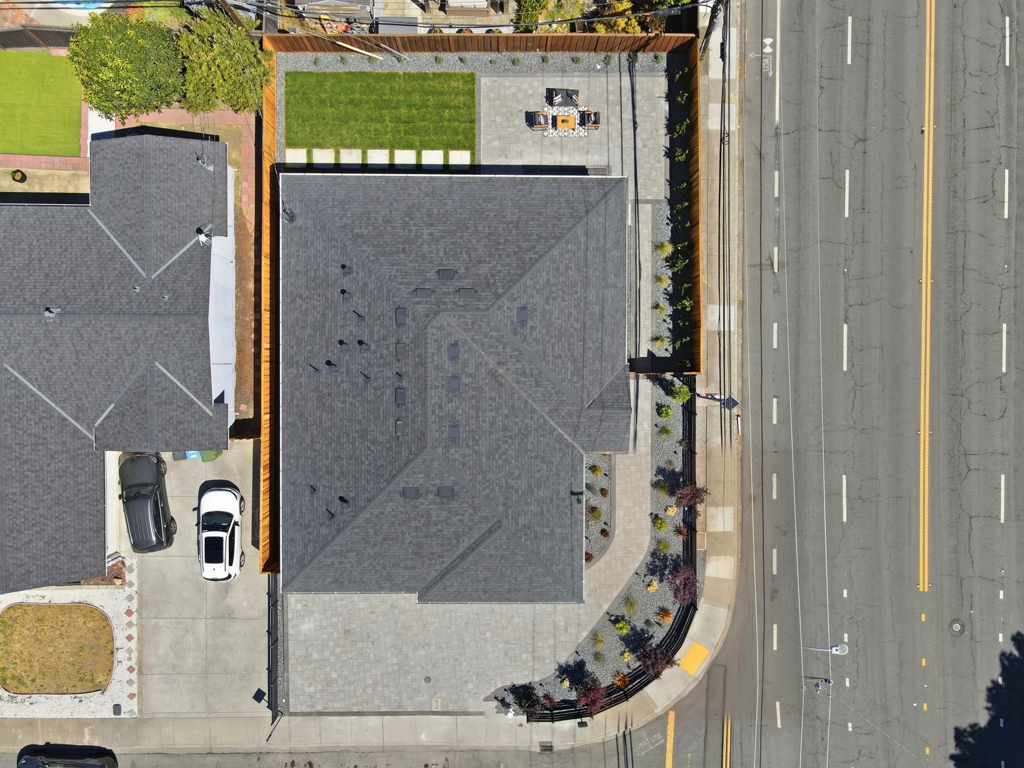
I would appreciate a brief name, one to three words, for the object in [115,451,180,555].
car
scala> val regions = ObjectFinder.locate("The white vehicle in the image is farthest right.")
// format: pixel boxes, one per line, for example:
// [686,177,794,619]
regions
[192,485,246,585]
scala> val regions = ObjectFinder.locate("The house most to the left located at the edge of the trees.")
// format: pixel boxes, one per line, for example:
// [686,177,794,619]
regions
[0,131,247,593]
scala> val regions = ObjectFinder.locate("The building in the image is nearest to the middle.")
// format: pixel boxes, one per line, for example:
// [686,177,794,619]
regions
[278,172,633,605]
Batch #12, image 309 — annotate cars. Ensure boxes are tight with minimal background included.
[16,750,120,768]
[192,485,246,585]
[115,451,180,555]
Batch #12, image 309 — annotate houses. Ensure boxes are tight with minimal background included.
[278,172,633,605]
[0,131,247,593]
